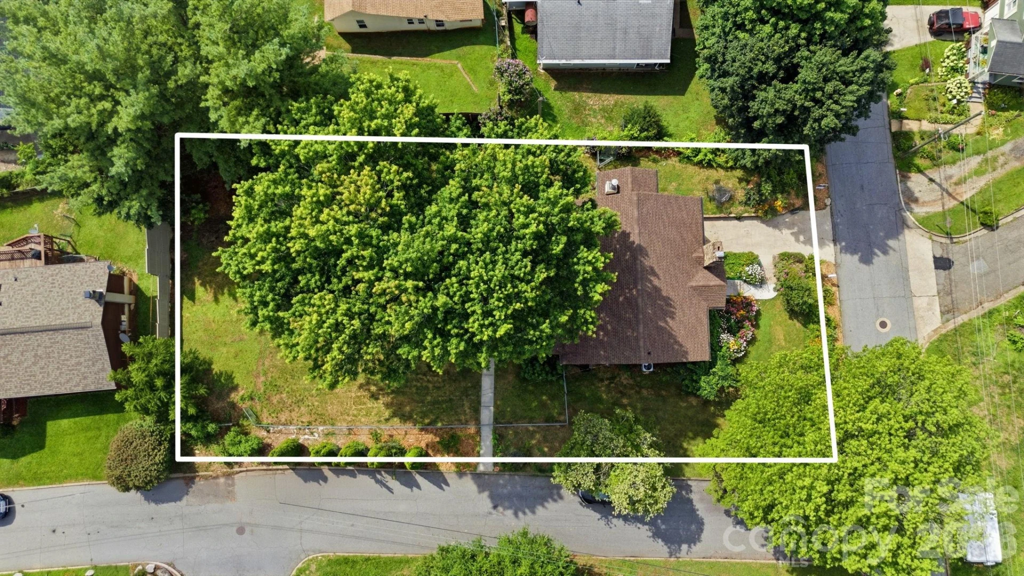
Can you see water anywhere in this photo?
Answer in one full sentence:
No, water can't be seen anywhere here.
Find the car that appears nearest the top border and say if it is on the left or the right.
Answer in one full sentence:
The car that appears nearest the top border is on the right side of the image.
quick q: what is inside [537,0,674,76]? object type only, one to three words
house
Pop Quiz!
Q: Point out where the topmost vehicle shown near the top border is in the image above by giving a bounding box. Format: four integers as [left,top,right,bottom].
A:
[932,2,986,32]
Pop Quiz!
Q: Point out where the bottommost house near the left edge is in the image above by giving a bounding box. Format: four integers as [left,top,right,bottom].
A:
[0,260,135,424]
